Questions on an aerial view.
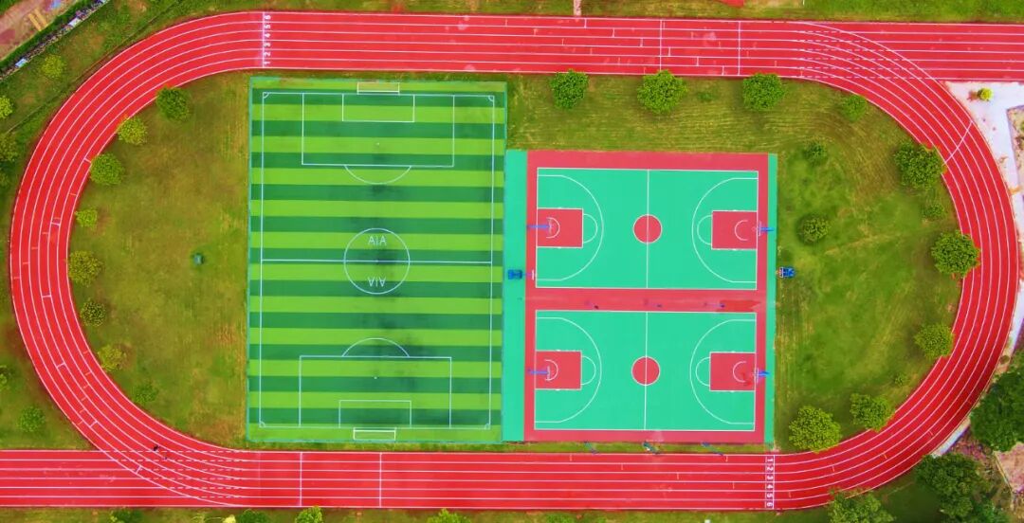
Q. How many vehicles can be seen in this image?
zero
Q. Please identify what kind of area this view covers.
sports ground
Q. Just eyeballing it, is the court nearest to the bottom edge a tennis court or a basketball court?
basketball court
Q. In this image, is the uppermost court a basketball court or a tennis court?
basketball court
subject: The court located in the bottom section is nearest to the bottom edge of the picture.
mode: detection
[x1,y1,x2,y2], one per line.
[534,310,757,431]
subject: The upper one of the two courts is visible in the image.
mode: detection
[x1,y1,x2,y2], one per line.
[536,168,758,290]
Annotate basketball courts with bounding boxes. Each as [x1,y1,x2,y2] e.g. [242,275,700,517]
[534,310,757,431]
[536,168,758,290]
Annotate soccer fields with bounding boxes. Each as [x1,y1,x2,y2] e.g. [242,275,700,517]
[245,76,508,446]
